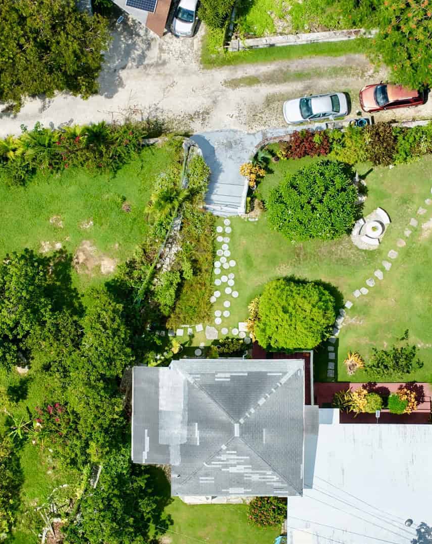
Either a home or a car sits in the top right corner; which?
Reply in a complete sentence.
There is a car in the top right corner.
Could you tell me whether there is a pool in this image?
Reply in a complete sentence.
No, this view has no pool in it.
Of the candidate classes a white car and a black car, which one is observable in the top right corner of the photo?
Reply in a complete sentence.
Visible in the top right corner of the photo is a white car.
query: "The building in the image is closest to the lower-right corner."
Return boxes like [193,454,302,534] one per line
[286,408,432,544]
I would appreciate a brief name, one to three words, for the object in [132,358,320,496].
house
